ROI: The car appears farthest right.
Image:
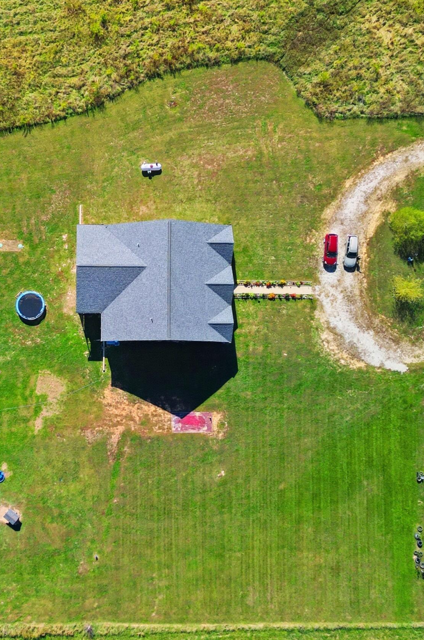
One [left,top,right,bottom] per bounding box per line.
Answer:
[341,233,359,268]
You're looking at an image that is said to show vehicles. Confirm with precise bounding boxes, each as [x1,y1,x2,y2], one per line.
[323,233,341,264]
[341,233,359,268]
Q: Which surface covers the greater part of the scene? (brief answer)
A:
grass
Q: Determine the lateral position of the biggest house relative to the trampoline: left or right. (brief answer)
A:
on its right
